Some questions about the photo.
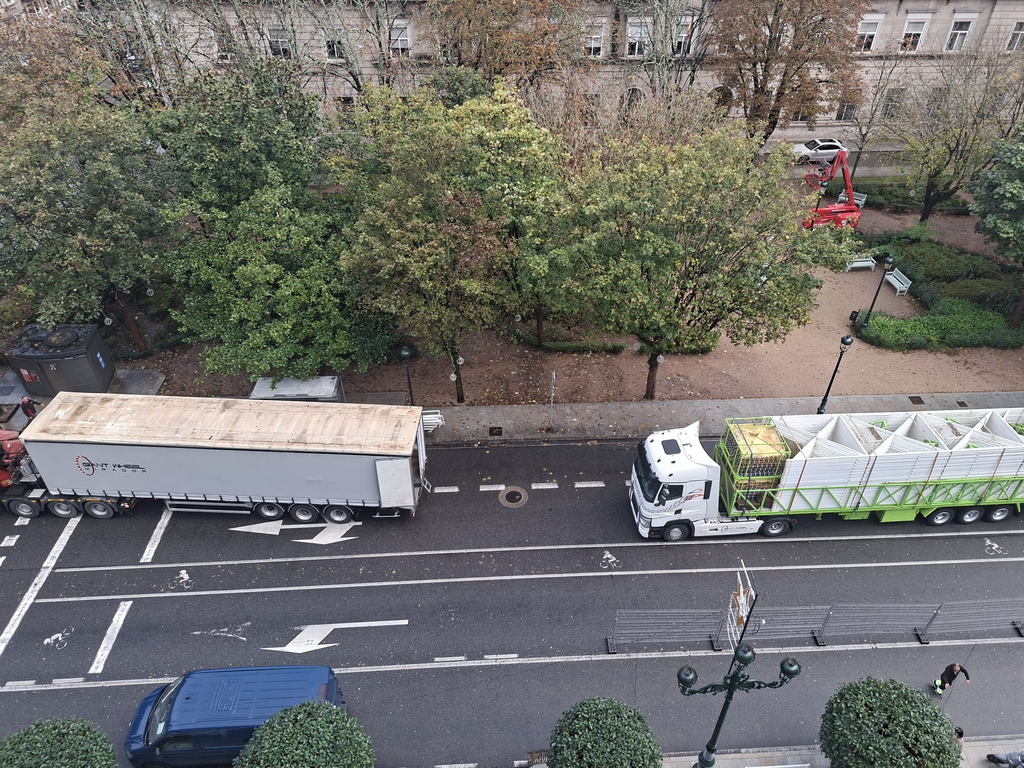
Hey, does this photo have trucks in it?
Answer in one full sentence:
Yes, there's a truck here.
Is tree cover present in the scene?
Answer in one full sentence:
Yes, there's tree cover in this view.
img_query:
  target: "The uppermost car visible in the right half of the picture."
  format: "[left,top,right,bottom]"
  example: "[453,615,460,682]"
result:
[783,140,837,166]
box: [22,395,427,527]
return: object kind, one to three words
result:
trailer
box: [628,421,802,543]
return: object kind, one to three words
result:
truck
